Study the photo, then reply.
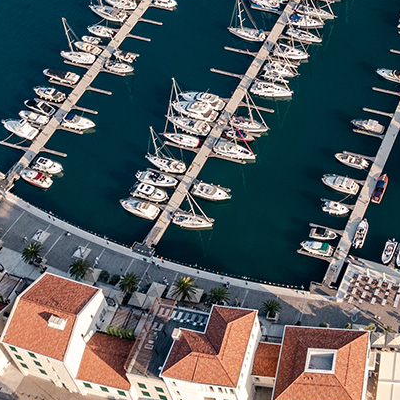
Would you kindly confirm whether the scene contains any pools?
No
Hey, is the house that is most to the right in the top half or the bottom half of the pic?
bottom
